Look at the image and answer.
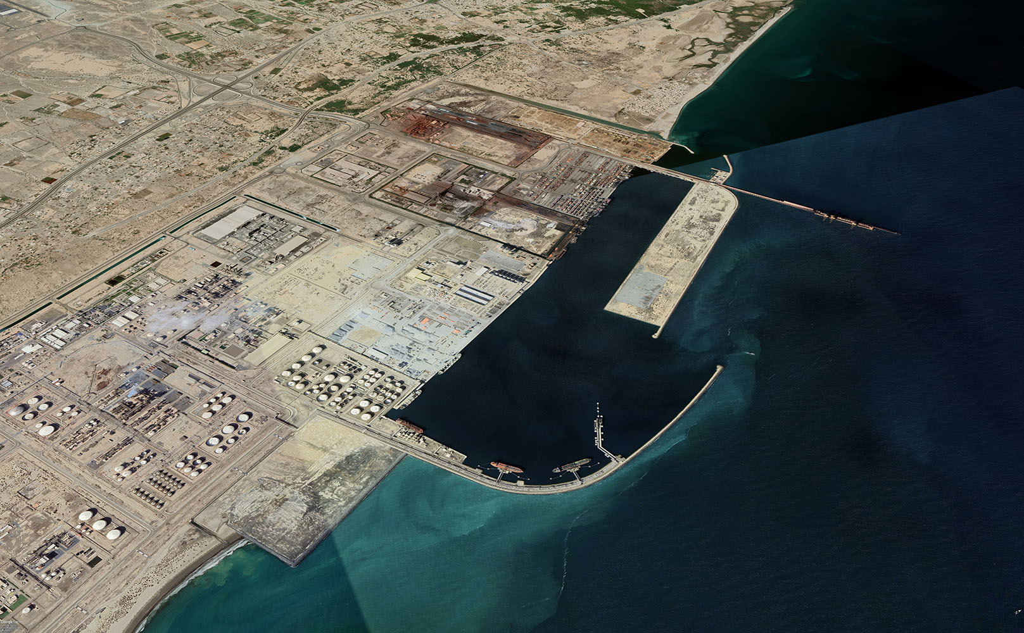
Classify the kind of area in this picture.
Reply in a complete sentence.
This image shows a port.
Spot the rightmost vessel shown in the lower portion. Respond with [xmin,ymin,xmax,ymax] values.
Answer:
[552,458,592,472]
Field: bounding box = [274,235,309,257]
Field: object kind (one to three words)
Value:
building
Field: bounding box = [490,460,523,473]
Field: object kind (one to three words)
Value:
ship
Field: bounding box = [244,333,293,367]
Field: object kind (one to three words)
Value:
building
